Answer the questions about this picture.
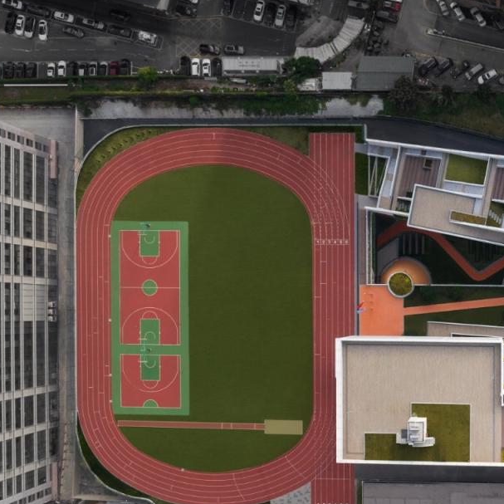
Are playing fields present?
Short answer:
Yes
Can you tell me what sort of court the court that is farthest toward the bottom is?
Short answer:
basketball court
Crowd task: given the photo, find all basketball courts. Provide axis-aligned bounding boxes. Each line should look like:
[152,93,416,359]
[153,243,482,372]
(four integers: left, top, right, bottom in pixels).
[112,221,189,350]
[112,350,189,415]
